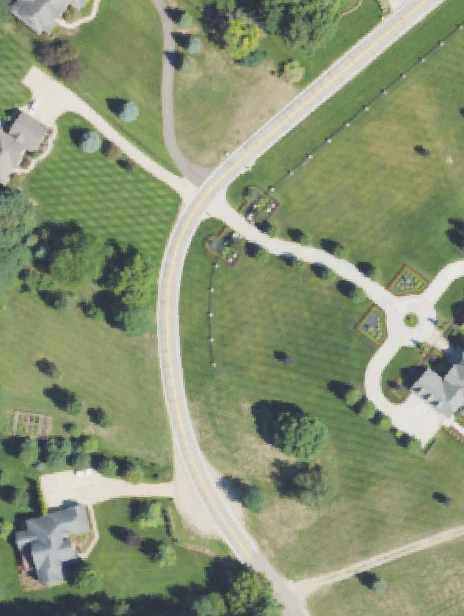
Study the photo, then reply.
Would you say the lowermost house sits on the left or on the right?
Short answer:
left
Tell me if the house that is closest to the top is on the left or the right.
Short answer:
left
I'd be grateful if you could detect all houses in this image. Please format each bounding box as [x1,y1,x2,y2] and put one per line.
[14,506,91,585]
[410,345,464,419]
[5,0,87,40]
[0,109,49,193]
